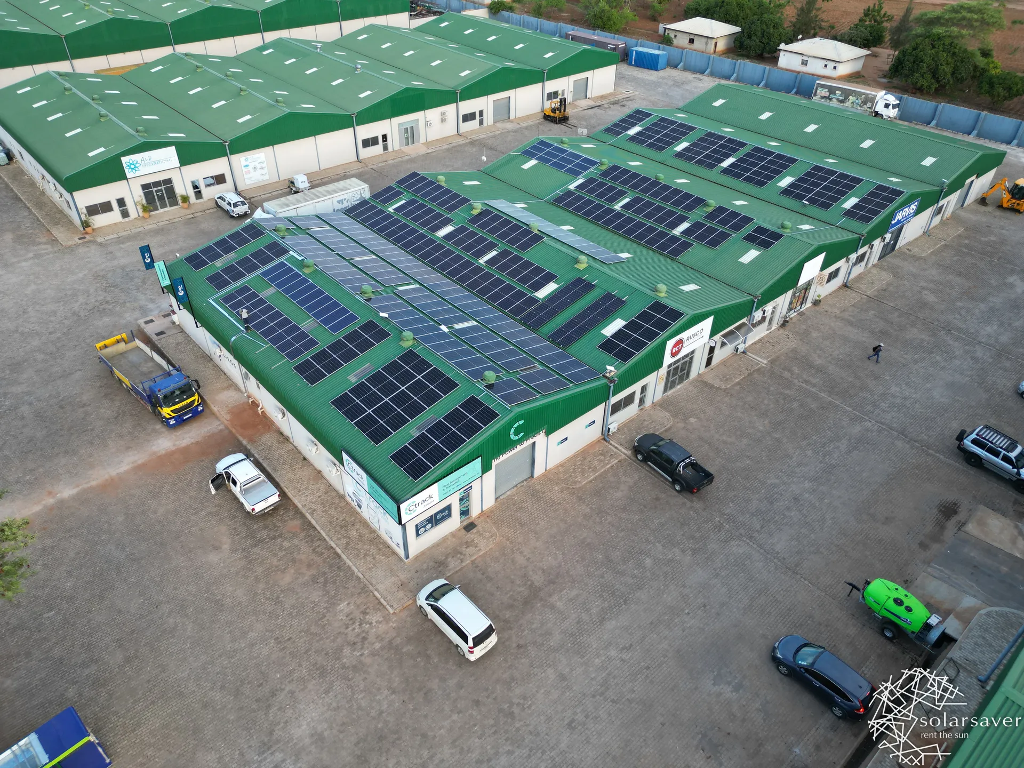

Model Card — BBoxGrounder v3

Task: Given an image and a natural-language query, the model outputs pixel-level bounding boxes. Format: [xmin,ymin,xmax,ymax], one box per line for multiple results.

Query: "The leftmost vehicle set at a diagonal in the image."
[90,323,203,425]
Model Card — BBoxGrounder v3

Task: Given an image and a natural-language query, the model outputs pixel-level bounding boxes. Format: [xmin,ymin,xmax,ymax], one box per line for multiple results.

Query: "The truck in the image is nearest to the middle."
[631,431,715,496]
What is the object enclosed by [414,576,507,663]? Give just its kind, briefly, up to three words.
car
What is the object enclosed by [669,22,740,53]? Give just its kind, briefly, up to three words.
house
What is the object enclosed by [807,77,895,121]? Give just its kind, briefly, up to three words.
truck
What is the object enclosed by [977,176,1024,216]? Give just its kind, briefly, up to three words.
work vehicle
